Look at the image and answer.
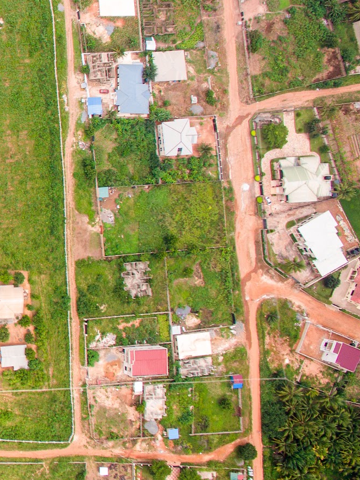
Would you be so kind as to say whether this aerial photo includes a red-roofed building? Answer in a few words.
Yes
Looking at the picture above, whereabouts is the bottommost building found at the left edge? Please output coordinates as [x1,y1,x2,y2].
[0,345,29,371]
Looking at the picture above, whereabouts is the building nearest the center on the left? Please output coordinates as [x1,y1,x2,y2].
[120,261,150,297]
